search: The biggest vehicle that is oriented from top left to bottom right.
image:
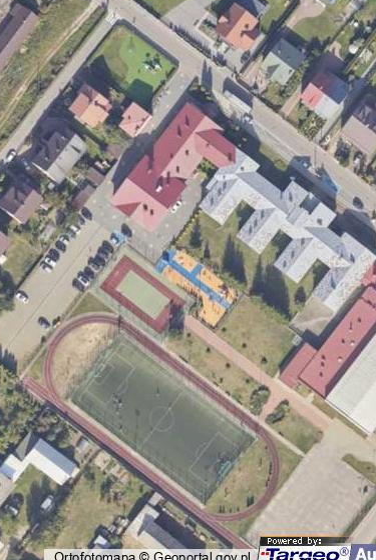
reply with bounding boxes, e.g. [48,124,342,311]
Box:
[225,90,258,116]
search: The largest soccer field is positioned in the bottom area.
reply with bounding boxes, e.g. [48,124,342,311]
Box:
[70,326,259,506]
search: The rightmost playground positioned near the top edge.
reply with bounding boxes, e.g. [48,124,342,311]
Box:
[119,27,178,96]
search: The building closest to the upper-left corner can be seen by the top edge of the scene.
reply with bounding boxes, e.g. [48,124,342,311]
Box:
[0,4,40,72]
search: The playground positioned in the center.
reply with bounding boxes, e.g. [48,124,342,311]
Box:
[155,248,237,326]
